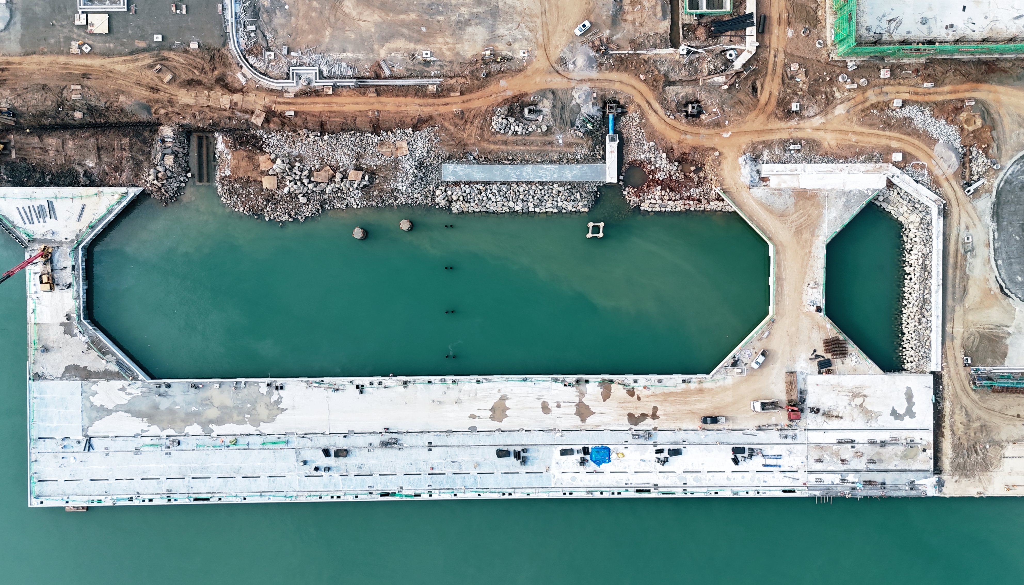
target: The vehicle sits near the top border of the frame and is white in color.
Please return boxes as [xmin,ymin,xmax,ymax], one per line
[574,16,592,36]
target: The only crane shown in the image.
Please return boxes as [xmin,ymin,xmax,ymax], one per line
[0,244,66,292]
